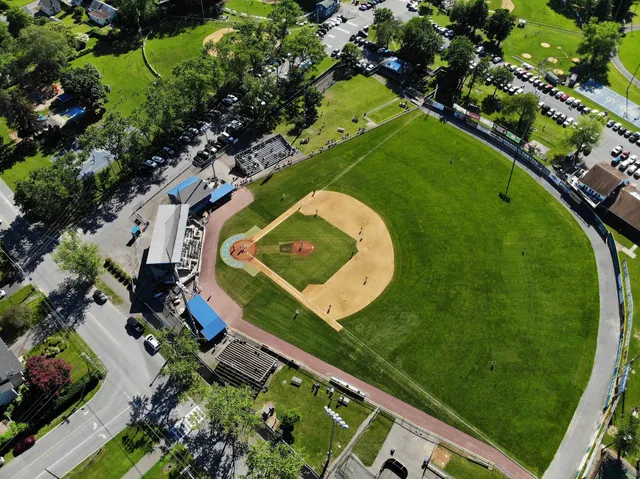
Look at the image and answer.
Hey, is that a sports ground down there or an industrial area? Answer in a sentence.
This looks like a sports ground.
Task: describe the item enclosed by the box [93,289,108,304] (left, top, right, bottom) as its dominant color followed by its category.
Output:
black car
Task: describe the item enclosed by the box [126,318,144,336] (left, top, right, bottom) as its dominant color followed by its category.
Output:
black vehicle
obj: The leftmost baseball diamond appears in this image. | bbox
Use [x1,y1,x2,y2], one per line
[143,24,258,77]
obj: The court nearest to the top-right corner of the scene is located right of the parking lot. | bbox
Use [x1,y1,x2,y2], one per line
[574,76,640,122]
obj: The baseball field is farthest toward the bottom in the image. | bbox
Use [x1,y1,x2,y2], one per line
[199,107,621,479]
